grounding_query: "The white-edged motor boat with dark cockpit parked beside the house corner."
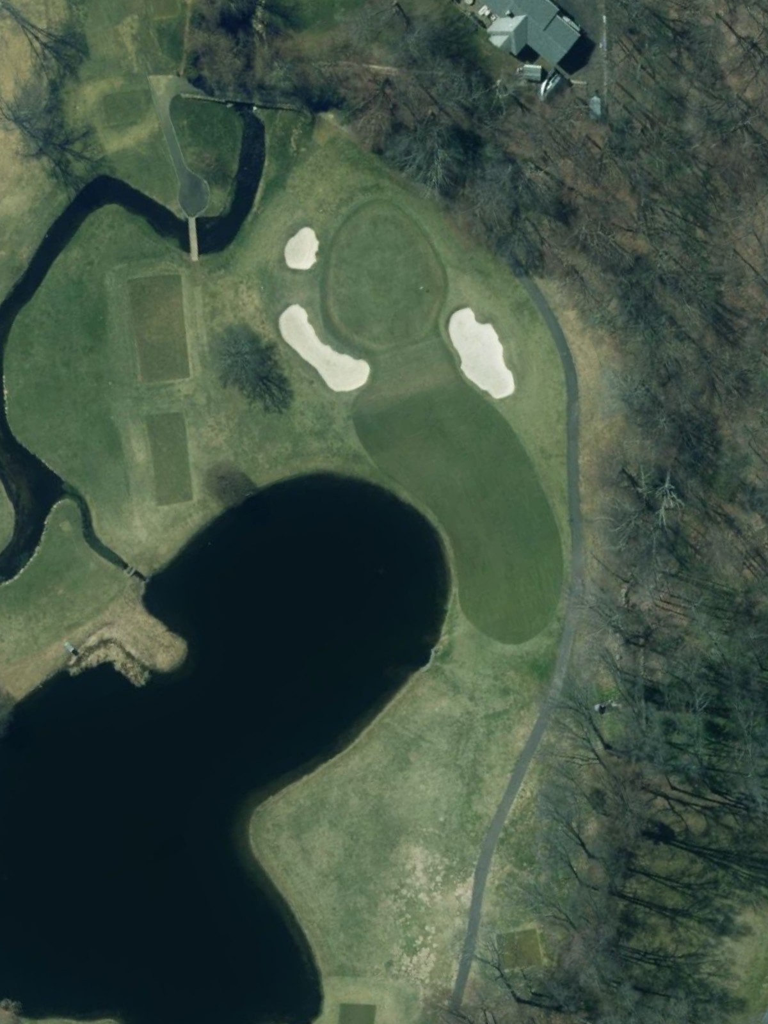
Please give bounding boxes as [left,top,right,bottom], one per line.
[543,67,562,98]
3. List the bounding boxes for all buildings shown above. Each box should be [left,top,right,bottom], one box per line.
[524,63,541,80]
[483,0,580,63]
